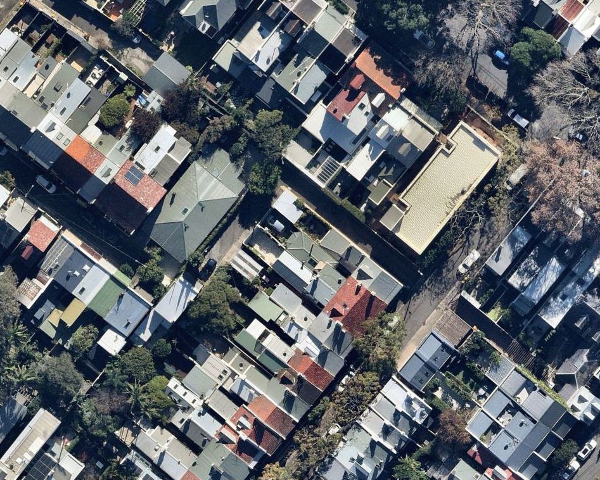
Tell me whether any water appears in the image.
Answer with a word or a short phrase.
No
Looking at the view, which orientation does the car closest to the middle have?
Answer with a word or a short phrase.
diagonally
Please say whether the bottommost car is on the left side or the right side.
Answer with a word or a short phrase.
right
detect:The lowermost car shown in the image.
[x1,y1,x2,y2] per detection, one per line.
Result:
[557,459,585,480]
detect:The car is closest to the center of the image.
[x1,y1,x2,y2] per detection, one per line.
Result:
[265,213,290,236]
